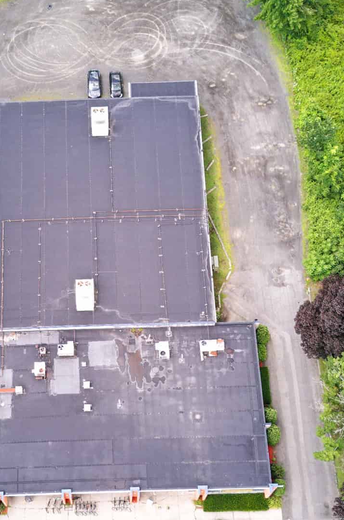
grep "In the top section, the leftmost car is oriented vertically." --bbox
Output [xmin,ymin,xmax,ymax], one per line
[86,66,102,99]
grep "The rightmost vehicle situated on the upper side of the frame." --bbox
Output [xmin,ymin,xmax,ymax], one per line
[108,67,124,98]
